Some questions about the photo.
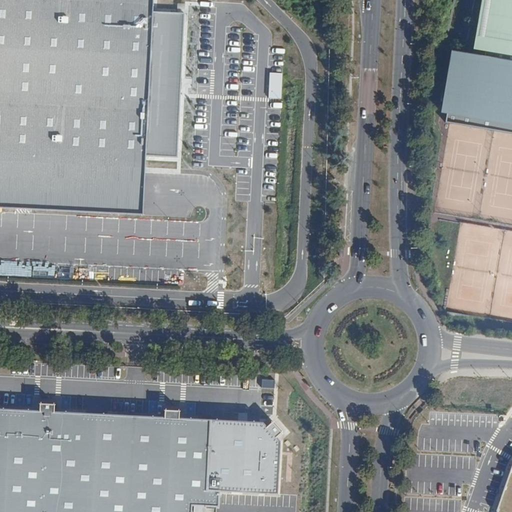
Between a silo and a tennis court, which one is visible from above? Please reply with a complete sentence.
Visible in the photo is a tennis court.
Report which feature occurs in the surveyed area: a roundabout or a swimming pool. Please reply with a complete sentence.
It is a roundabout that can be seen here.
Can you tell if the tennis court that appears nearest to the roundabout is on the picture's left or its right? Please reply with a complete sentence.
The tennis court that appears nearest to the roundabout is on the right side of the image.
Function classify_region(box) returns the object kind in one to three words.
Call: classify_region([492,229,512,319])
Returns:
tennis court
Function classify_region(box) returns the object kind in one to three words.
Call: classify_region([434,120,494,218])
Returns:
tennis court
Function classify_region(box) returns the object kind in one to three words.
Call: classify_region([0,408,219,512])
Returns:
building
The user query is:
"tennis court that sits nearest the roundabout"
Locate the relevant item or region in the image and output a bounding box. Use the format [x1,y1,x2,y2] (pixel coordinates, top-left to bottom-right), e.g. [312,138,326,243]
[446,222,504,315]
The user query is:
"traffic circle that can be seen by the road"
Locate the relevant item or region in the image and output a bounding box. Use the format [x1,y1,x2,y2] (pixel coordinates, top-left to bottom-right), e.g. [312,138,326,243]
[303,276,443,414]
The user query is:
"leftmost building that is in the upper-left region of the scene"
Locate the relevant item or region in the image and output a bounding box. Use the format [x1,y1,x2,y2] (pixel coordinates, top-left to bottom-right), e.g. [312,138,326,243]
[0,0,154,214]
